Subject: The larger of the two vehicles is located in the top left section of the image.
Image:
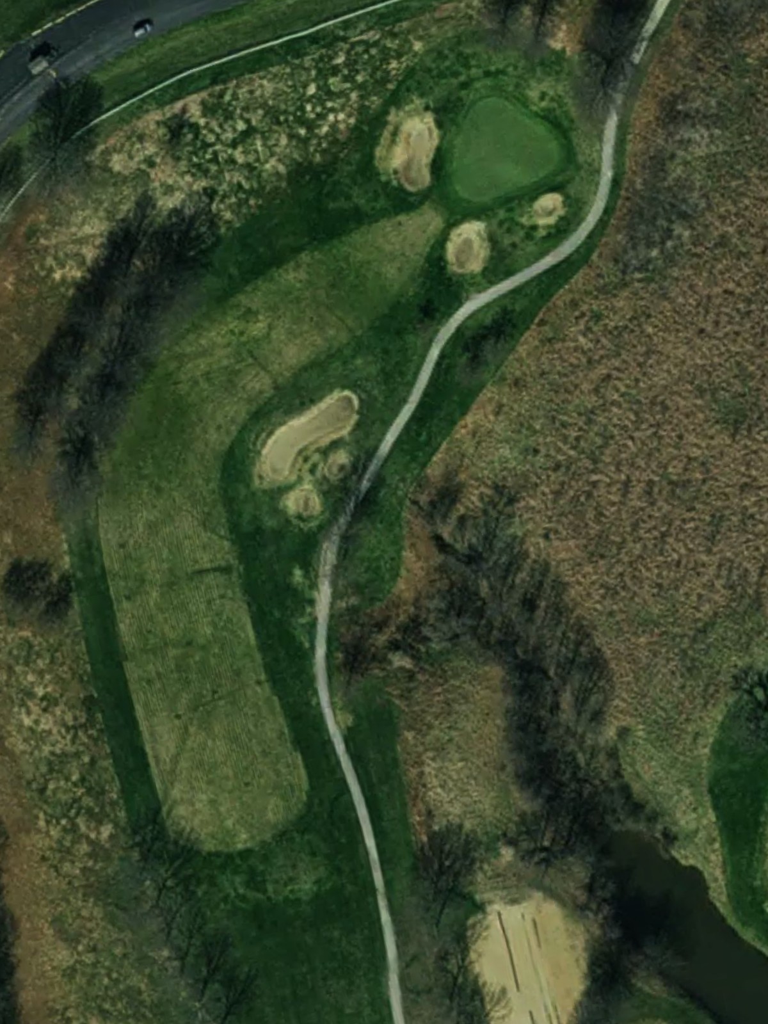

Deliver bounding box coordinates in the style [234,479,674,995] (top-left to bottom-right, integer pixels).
[29,55,51,74]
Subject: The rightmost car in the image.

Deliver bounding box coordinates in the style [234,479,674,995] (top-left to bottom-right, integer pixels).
[134,24,152,37]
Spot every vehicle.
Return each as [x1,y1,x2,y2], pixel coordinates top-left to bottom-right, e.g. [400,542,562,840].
[134,24,152,37]
[29,55,51,74]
